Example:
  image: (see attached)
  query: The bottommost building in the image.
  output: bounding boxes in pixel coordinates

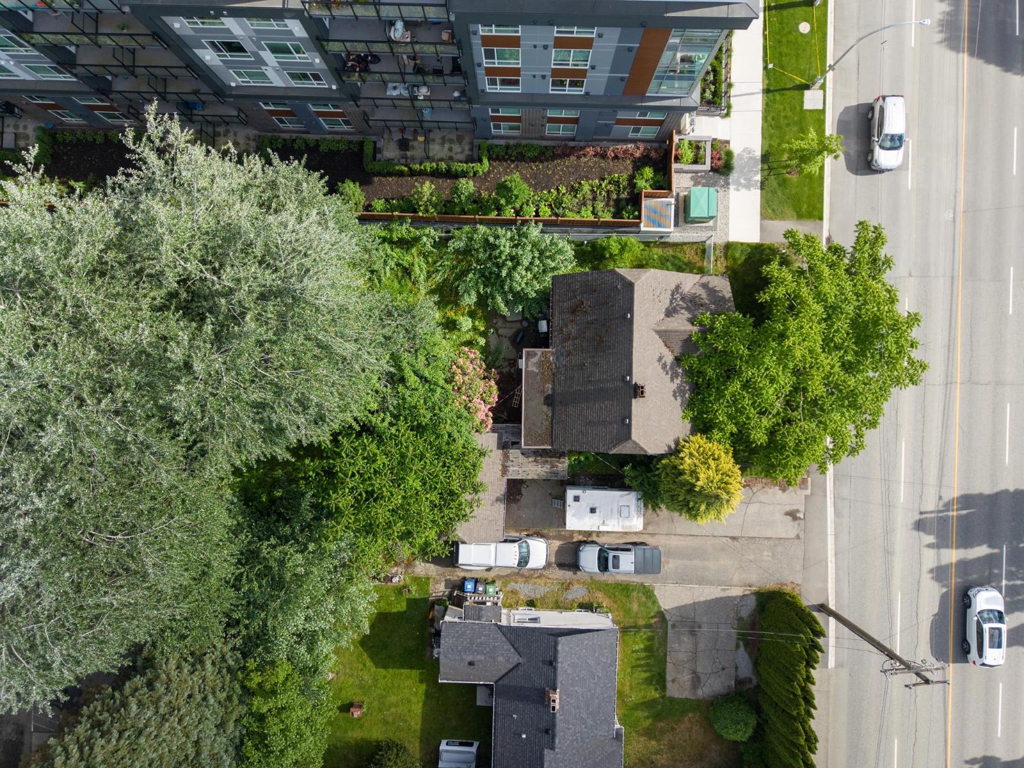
[436,590,627,768]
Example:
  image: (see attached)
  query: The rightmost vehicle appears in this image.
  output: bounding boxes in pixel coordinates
[960,586,1003,664]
